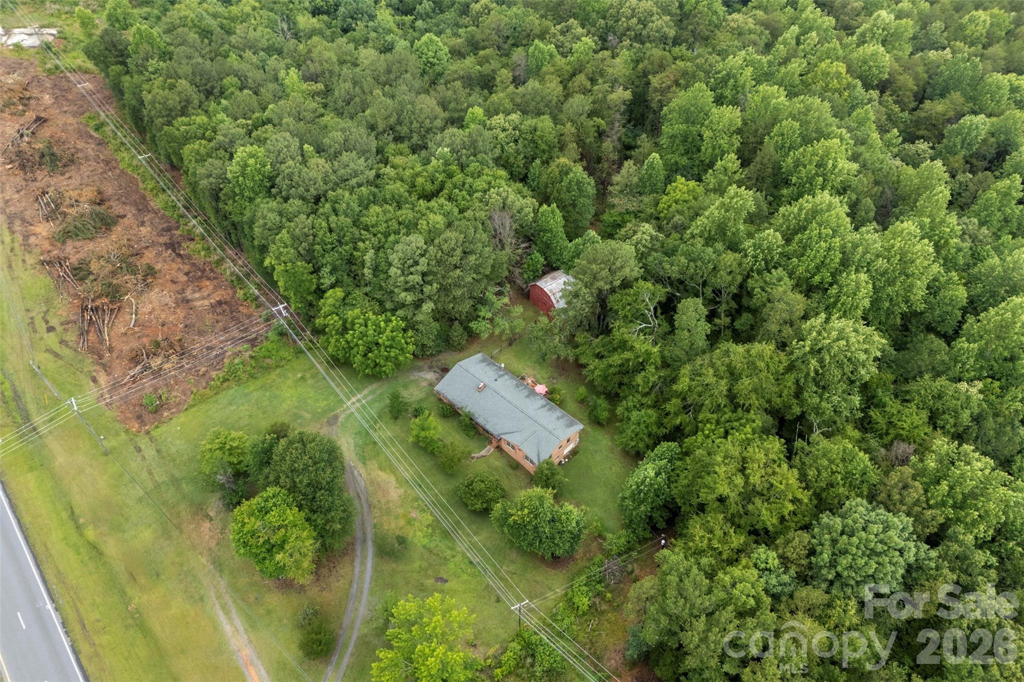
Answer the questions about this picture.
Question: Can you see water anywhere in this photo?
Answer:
No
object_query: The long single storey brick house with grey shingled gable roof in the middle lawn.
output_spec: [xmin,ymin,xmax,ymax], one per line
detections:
[434,354,586,477]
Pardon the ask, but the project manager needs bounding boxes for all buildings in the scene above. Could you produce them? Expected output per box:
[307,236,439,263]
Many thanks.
[528,267,588,322]
[434,354,586,477]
